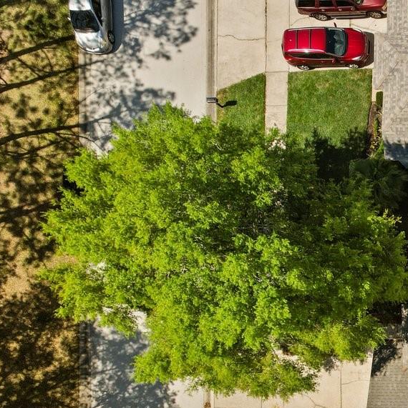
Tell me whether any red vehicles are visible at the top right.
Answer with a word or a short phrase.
Yes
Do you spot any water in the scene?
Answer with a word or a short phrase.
No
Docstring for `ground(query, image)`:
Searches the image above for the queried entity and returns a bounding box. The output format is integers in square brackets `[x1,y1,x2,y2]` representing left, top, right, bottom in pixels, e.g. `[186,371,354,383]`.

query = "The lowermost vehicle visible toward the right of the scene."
[284,26,370,73]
